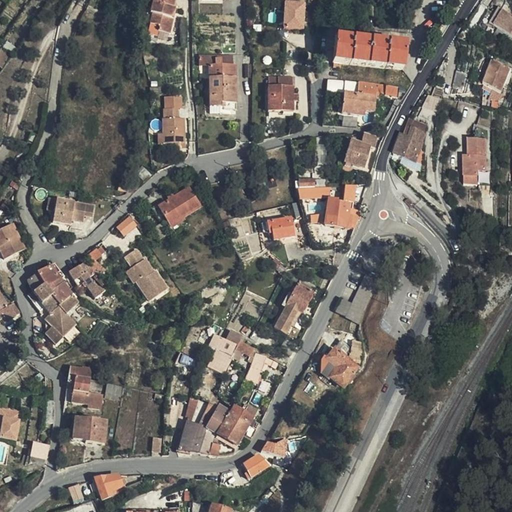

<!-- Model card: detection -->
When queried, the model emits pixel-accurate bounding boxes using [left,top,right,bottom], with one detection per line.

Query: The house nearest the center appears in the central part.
[268,216,296,244]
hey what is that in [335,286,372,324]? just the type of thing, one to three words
building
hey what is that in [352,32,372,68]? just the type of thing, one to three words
house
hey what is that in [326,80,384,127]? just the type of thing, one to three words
house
